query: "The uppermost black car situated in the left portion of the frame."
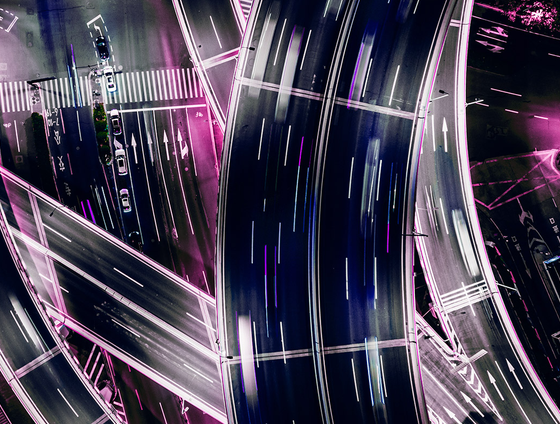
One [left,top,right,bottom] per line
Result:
[95,35,108,62]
